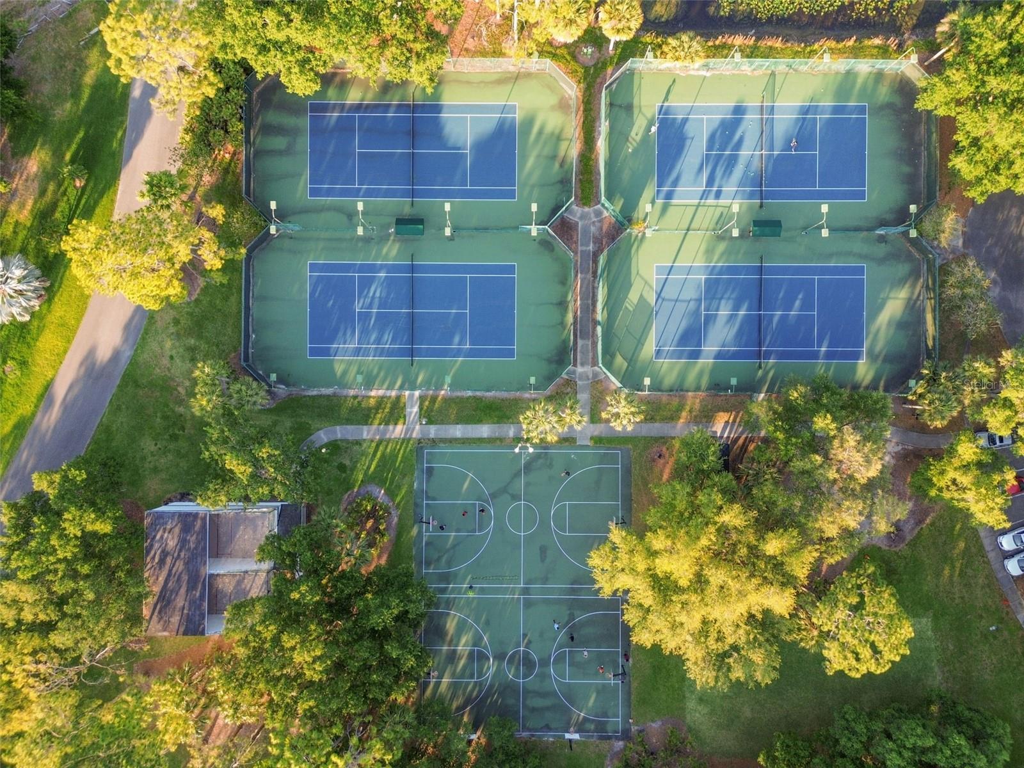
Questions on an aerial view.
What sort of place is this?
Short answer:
sports ground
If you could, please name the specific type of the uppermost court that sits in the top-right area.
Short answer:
tennis court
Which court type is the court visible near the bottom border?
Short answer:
basketball court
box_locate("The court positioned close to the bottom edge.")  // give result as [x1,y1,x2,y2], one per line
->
[413,591,632,741]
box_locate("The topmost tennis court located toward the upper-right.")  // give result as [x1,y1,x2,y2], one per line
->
[601,73,922,230]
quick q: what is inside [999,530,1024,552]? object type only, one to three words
car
